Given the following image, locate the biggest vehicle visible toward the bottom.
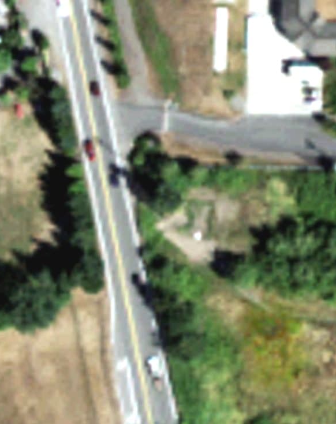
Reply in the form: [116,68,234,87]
[150,353,165,380]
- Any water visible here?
No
